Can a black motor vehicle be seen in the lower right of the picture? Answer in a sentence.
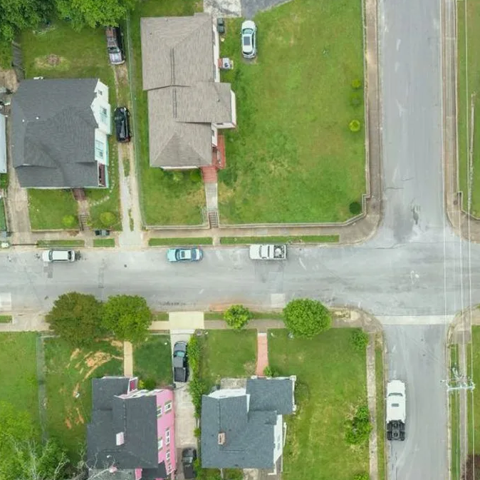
No, no black motor vehicle can be made out in the lower right of the picture.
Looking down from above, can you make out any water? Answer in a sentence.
No, water can't be seen anywhere here.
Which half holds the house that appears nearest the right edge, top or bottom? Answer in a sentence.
The house that appears nearest the right edge is in the bottom half of the image.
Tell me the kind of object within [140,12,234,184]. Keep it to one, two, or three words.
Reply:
house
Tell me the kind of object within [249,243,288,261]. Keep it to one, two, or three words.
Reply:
vehicle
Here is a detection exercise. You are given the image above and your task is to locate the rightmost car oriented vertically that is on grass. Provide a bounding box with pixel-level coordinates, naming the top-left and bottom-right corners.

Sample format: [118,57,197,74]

[238,19,256,58]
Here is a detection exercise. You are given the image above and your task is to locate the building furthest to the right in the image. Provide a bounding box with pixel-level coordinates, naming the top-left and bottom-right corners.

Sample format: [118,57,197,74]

[202,376,295,473]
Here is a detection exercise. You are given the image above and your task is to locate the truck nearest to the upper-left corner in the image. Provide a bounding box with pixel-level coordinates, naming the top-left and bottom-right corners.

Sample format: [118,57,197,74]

[105,25,126,67]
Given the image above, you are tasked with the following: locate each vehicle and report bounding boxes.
[112,106,131,145]
[43,247,80,264]
[384,378,408,441]
[180,445,197,480]
[238,19,256,58]
[170,340,189,383]
[167,246,204,263]
[105,25,126,67]
[249,243,288,261]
